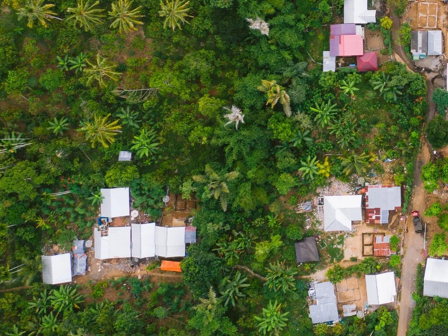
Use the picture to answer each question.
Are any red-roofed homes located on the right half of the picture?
Yes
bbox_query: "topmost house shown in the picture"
[344,0,376,24]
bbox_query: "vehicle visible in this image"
[409,209,423,234]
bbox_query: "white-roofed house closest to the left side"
[42,253,76,283]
